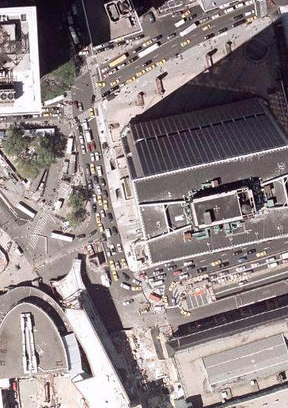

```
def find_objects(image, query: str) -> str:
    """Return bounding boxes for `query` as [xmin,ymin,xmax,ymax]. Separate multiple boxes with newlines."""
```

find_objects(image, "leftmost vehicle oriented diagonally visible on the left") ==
[17,202,36,218]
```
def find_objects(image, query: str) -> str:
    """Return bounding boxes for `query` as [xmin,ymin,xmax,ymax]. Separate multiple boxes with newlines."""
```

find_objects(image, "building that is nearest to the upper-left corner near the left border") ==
[0,7,44,80]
